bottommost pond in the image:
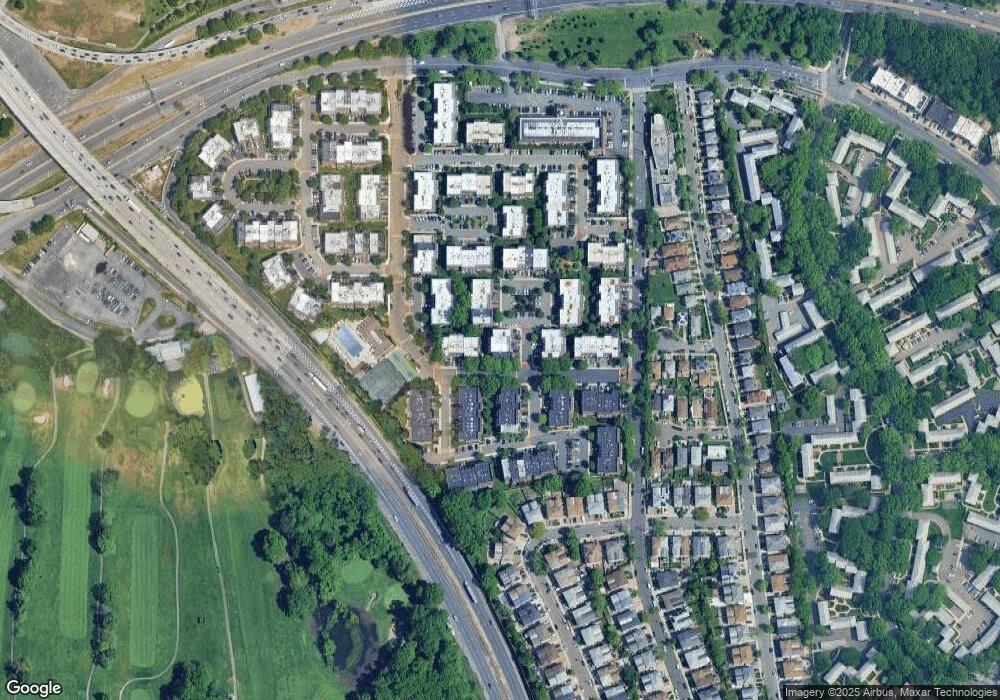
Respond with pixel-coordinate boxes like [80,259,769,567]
[317,605,368,671]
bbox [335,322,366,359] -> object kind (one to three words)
swimming pool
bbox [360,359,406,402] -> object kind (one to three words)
sports court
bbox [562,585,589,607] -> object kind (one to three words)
house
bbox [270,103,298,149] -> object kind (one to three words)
building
